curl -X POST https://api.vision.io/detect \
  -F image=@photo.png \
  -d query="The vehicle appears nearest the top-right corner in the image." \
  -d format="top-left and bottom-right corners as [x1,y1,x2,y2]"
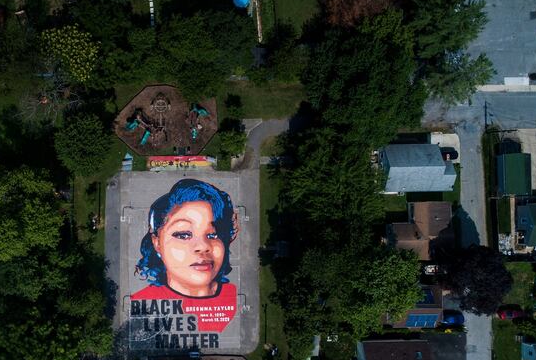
[441,147,462,160]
